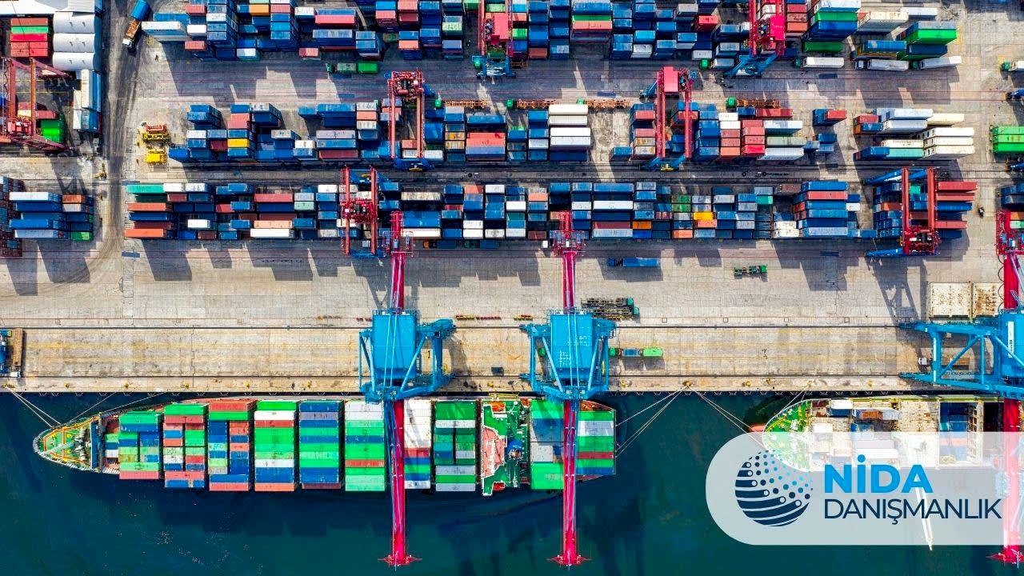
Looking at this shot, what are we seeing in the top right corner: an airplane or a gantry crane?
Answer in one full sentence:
There is a gantry crane in the top right corner.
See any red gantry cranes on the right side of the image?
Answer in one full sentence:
Yes, a red gantry crane appears on the right side of the image.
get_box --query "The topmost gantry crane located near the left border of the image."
[4,56,77,148]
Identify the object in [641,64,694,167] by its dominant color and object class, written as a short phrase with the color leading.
red container crane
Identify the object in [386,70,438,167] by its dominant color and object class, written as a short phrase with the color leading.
red container crane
